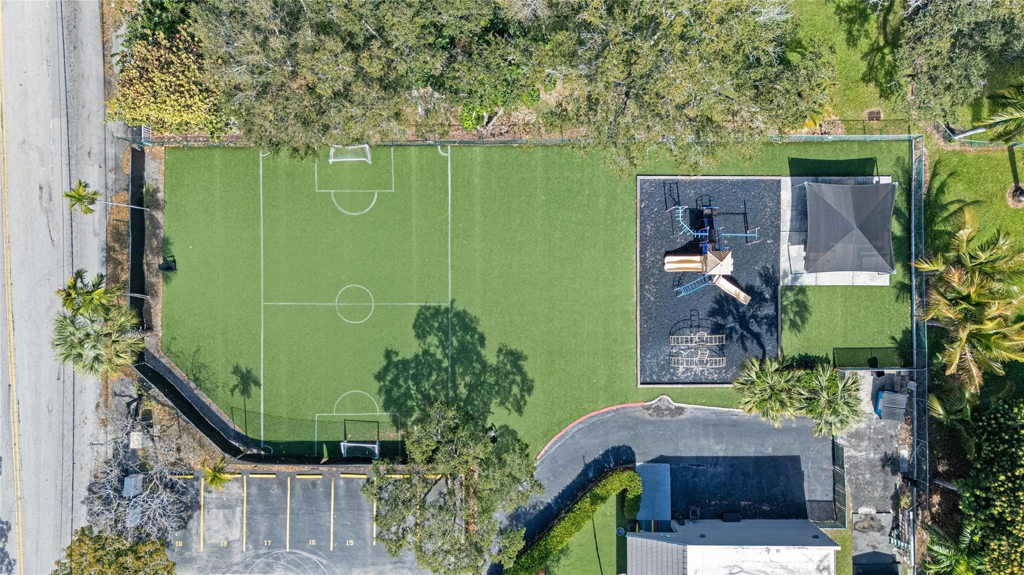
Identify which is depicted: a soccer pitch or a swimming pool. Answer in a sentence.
The one in the frame is a soccer pitch.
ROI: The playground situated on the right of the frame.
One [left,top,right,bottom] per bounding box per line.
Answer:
[637,175,782,388]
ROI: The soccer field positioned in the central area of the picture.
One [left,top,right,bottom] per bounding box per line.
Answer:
[161,142,912,467]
